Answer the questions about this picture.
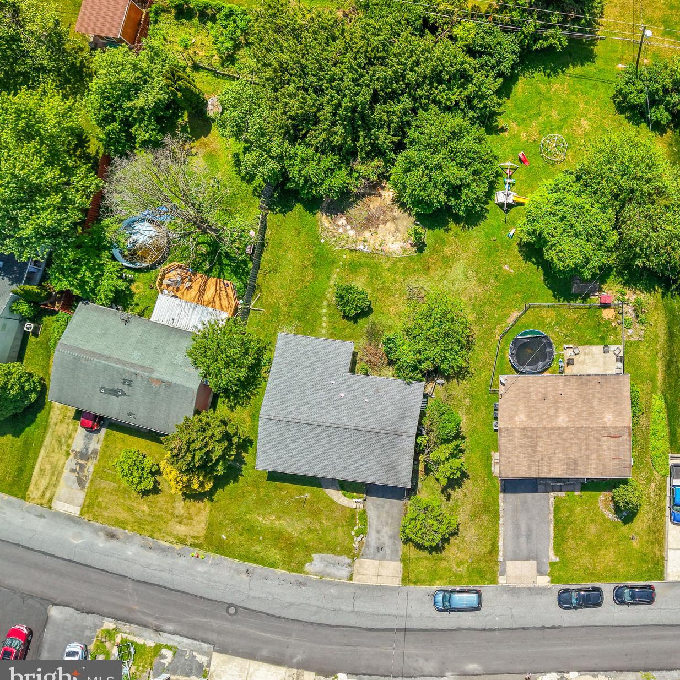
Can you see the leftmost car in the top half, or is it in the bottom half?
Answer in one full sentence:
The bottom half of the photo is where the leftmost car is.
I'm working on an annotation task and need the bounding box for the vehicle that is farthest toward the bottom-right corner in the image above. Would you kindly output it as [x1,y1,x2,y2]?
[613,584,656,607]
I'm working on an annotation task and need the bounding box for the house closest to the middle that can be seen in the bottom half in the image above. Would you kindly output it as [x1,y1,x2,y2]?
[258,332,428,489]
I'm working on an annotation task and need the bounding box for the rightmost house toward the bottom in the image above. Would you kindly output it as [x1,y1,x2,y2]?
[498,374,632,479]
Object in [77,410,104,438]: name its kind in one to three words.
car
